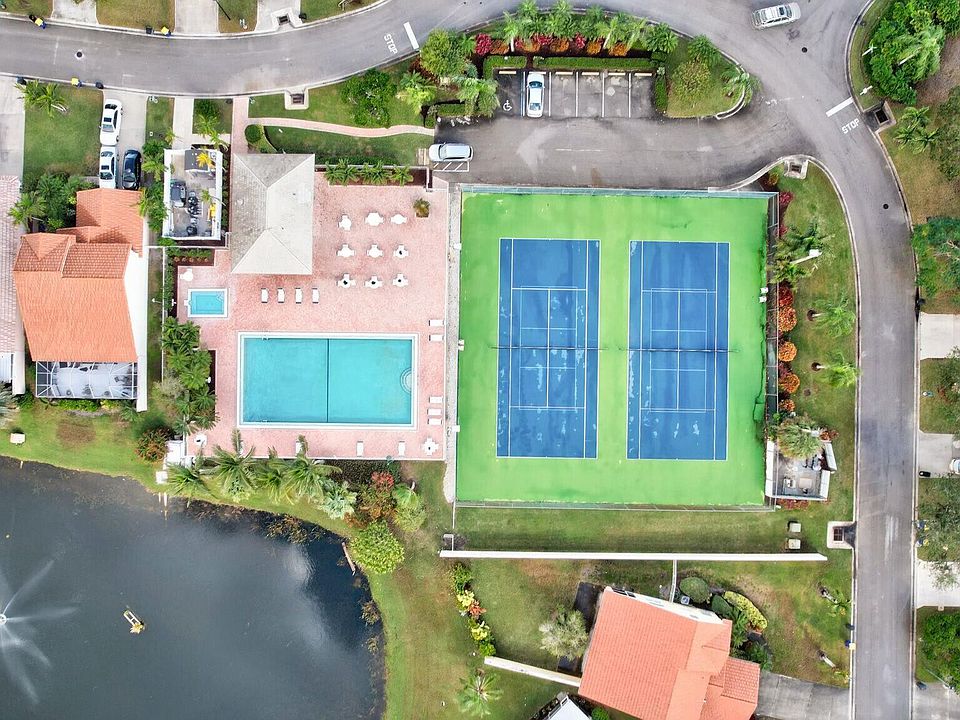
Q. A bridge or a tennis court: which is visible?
tennis court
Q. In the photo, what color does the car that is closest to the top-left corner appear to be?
white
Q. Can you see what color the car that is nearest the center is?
white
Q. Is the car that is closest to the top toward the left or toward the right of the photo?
right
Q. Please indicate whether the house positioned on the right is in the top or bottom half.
bottom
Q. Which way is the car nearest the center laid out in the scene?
from side to side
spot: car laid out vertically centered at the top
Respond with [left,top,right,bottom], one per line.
[525,73,546,118]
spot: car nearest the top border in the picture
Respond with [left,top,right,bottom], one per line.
[751,1,801,31]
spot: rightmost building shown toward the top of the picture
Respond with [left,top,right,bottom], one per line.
[231,153,317,275]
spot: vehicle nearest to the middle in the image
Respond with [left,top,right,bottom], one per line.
[429,141,473,163]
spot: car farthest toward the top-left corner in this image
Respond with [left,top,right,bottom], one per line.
[98,98,125,146]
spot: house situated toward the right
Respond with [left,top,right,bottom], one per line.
[578,581,761,720]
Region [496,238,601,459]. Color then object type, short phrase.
blue tennis court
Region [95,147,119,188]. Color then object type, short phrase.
white car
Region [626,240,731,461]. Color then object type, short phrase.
blue tennis court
